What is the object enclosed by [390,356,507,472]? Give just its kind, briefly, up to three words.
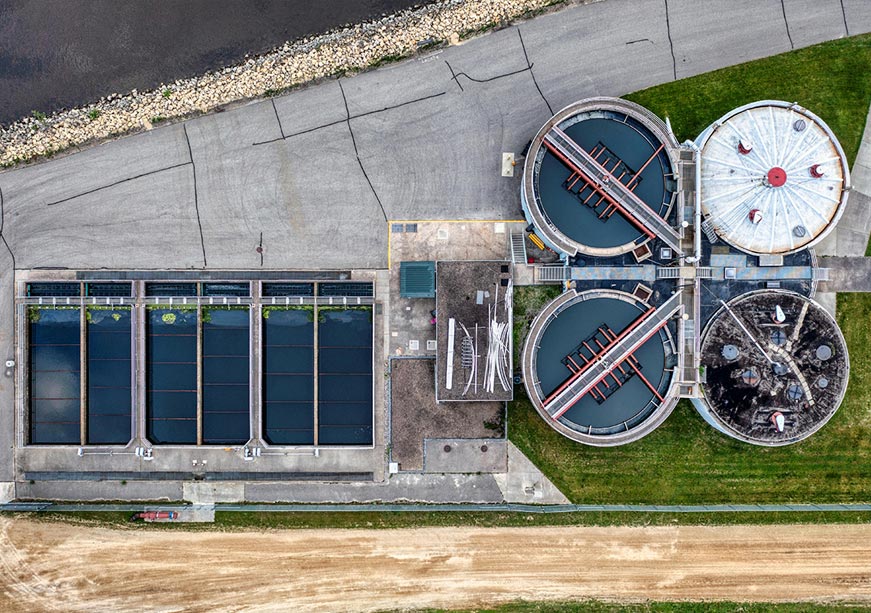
building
